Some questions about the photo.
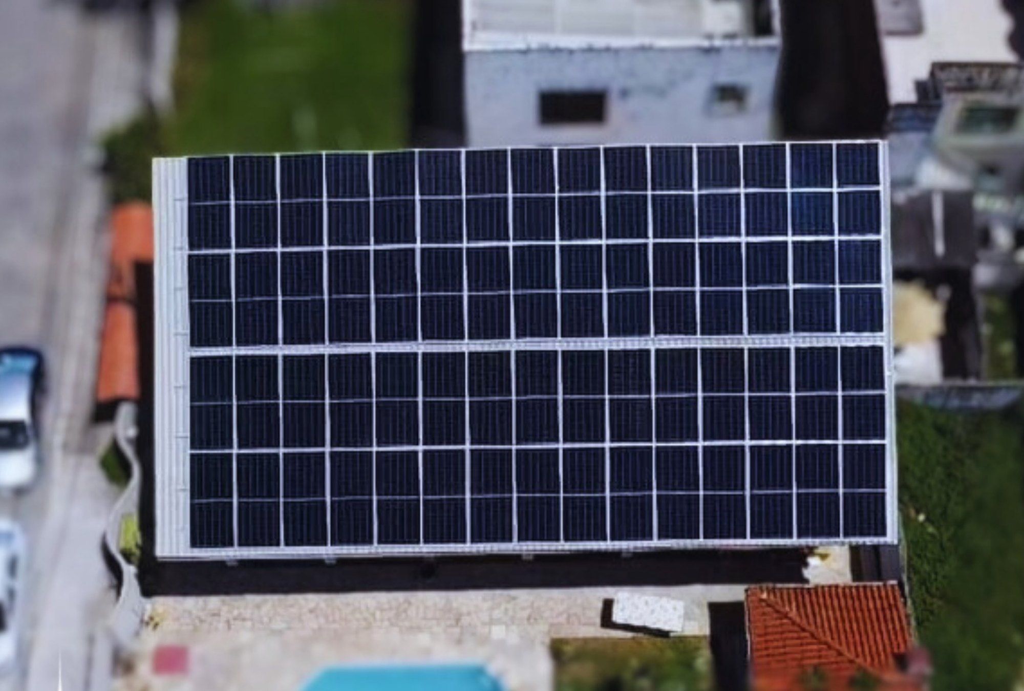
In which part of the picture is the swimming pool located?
bottom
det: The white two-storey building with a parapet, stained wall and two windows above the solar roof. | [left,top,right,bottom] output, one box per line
[463,0,781,144]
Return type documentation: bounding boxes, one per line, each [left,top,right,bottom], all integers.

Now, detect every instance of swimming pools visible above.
[294,659,512,691]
